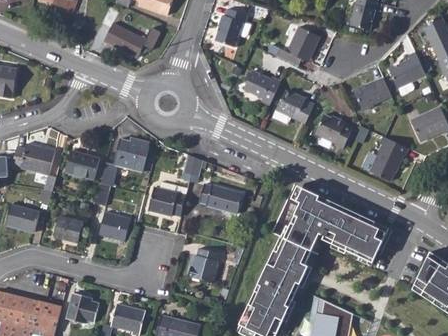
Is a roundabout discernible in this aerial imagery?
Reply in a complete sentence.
Yes, you can see a roundabout in this photo.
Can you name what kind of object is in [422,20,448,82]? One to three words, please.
house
